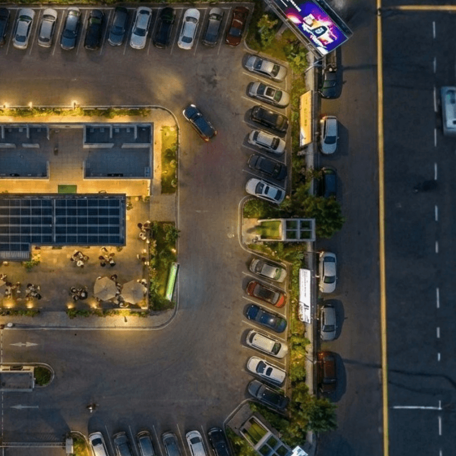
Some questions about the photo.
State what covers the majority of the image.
paved ground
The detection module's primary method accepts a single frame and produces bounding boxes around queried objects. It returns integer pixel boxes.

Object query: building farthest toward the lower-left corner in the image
[0,366,36,389]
